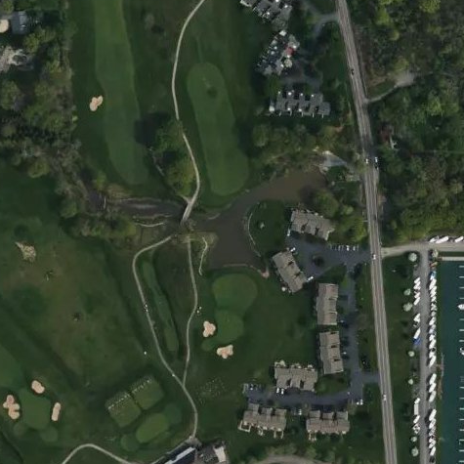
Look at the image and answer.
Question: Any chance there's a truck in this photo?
No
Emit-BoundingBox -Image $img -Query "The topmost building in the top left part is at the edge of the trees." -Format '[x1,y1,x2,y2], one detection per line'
[9,9,29,33]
